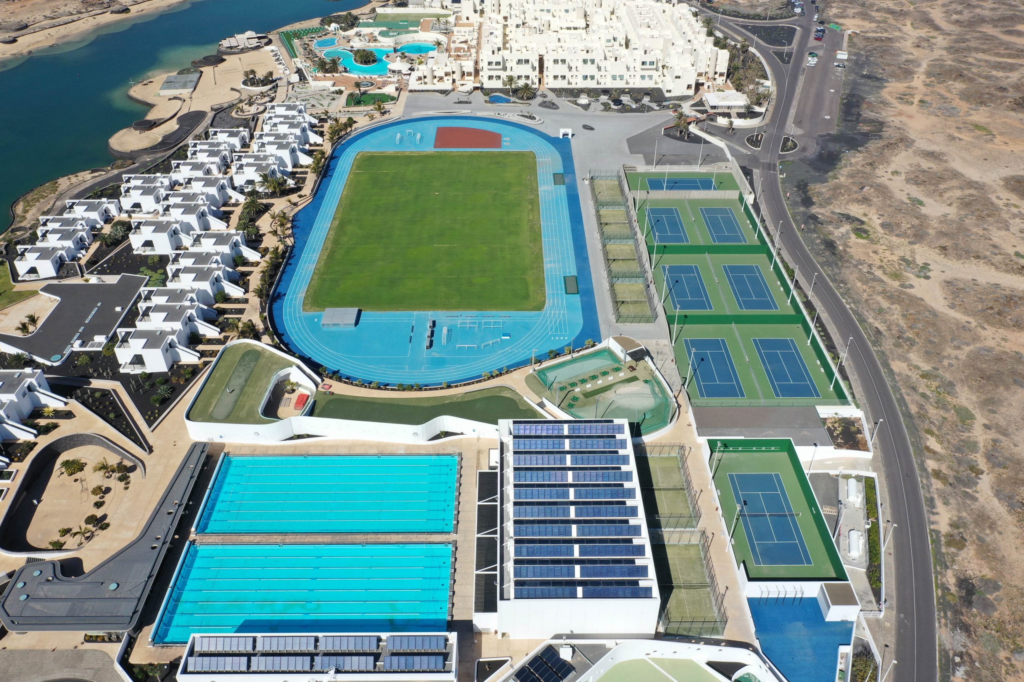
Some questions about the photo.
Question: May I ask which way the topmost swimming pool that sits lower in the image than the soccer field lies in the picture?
horizontally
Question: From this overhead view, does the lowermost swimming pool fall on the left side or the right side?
left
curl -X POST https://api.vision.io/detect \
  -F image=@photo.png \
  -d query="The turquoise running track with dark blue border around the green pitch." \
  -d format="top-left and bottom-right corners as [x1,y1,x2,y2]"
[273,116,601,387]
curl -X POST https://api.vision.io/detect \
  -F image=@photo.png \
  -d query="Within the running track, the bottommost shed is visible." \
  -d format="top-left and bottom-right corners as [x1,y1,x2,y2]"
[320,307,364,327]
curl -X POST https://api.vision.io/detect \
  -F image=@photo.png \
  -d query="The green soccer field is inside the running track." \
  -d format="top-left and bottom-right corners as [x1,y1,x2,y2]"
[303,151,544,311]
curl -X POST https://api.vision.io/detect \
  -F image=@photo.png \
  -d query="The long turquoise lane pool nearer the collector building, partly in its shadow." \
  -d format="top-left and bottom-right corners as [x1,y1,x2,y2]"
[144,538,457,646]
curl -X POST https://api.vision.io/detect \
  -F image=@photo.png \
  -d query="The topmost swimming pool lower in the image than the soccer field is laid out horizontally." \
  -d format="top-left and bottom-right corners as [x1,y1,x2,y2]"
[188,449,463,536]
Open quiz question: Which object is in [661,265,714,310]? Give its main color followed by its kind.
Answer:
blue tennis court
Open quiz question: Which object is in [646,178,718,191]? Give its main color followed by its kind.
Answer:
blue tennis court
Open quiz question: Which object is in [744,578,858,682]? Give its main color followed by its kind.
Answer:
blue sports court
